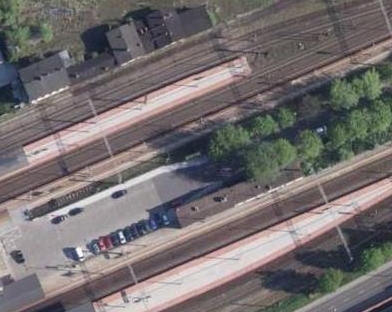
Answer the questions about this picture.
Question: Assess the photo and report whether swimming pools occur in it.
No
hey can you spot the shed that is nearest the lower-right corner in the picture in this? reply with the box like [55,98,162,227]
[176,158,301,229]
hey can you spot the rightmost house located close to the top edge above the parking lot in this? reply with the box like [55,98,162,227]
[164,5,213,43]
